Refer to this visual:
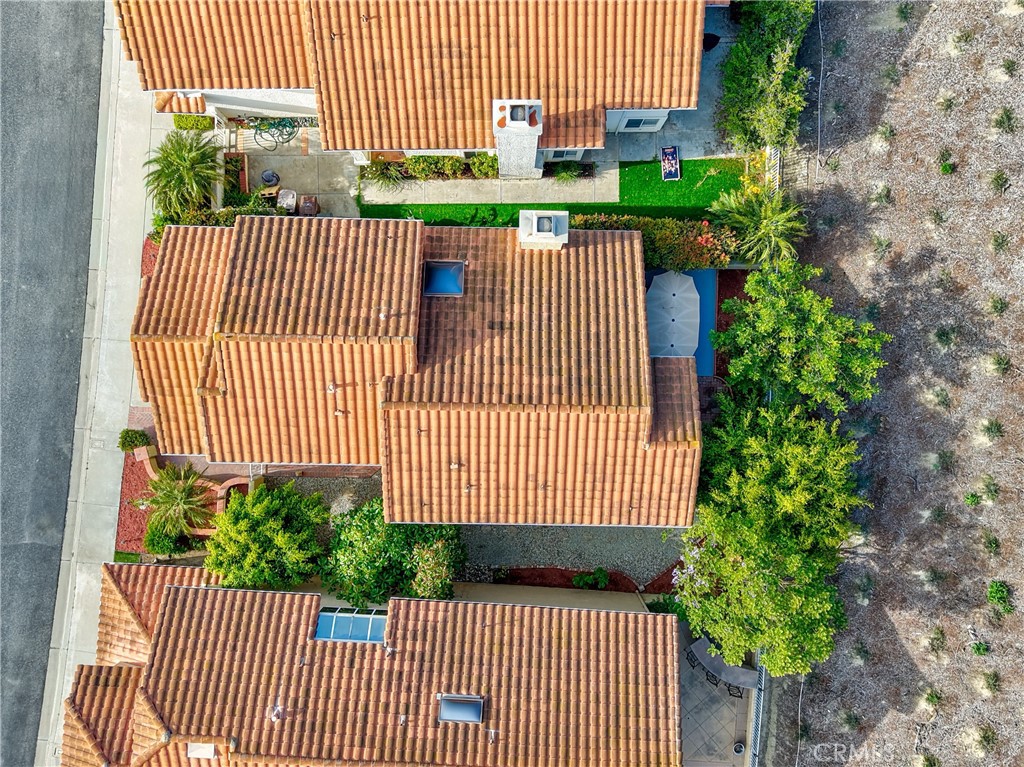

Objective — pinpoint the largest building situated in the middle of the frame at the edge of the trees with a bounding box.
[129,208,704,531]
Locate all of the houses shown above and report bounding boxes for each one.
[60,558,685,767]
[129,208,704,531]
[112,0,735,179]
